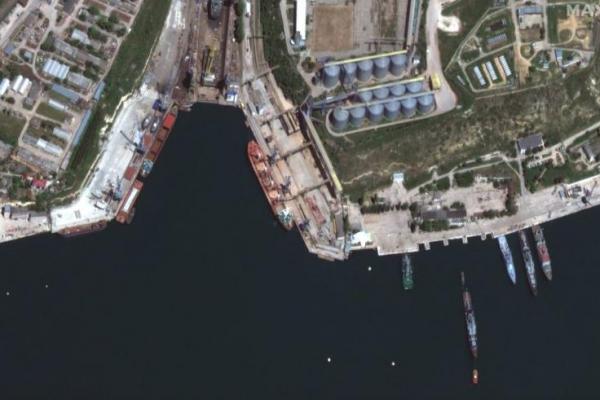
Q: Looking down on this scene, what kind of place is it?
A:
port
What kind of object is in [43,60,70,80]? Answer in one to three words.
building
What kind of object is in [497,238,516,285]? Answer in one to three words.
ship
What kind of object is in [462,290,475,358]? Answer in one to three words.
ship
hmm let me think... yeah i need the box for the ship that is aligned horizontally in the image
[59,222,108,237]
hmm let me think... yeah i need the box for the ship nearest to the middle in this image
[248,139,293,232]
